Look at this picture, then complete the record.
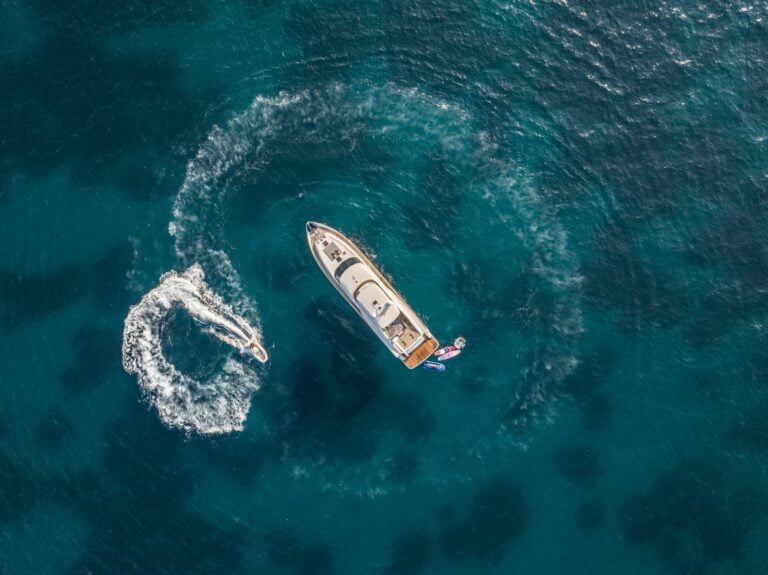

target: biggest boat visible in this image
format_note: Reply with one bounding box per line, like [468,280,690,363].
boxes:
[305,220,437,367]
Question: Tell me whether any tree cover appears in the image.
No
